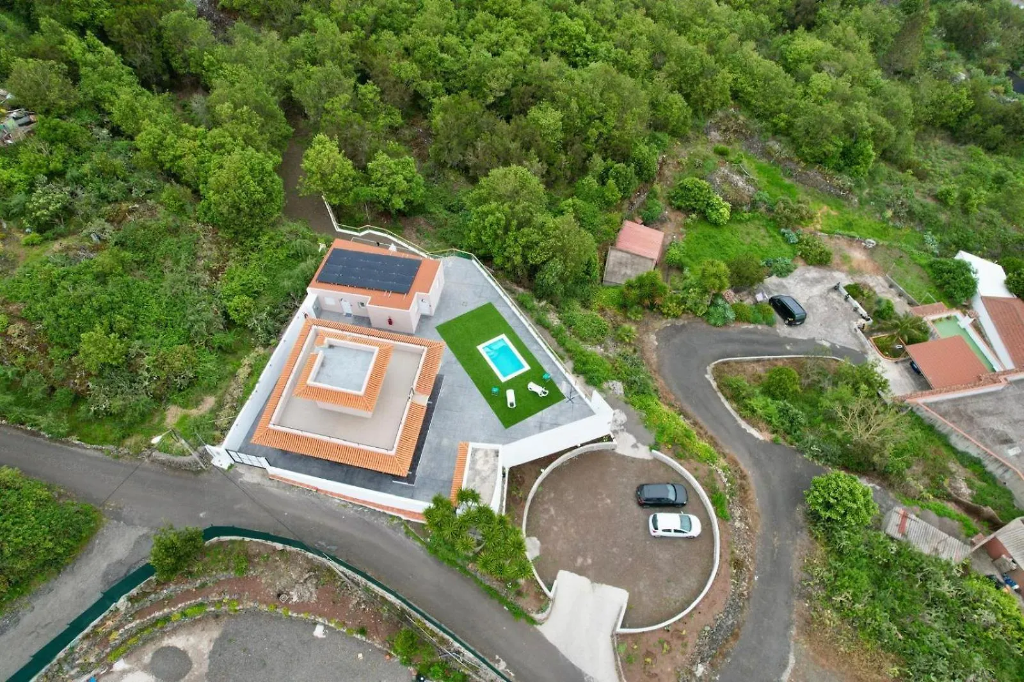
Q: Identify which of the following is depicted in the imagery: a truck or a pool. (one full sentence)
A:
The image shows a pool.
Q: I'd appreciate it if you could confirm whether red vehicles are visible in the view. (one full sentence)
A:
No, I can see no red vehicle in this picture.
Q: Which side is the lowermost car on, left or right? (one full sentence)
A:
The lowermost car is on the right side of the image.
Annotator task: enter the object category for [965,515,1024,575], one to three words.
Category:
building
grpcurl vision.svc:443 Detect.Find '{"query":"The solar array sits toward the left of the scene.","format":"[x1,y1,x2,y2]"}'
[318,247,420,298]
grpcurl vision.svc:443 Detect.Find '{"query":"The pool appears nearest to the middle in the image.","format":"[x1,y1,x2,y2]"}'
[477,333,530,382]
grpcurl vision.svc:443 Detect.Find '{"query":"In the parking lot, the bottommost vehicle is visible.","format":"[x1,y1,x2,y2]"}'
[647,513,701,541]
